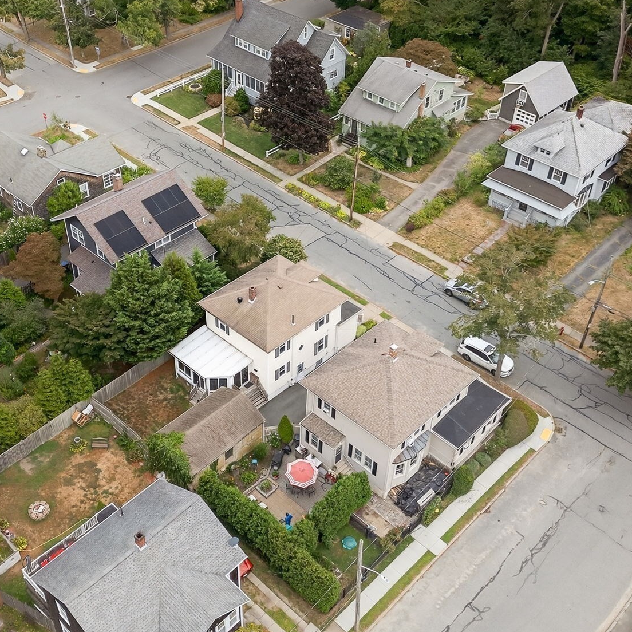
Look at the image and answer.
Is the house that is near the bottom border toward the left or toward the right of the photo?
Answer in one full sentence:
The house that is near the bottom border appears in the left half of the scene.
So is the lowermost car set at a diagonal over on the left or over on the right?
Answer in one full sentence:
The lowermost car set at a diagonal sits on the right side.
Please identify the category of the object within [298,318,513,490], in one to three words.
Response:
house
